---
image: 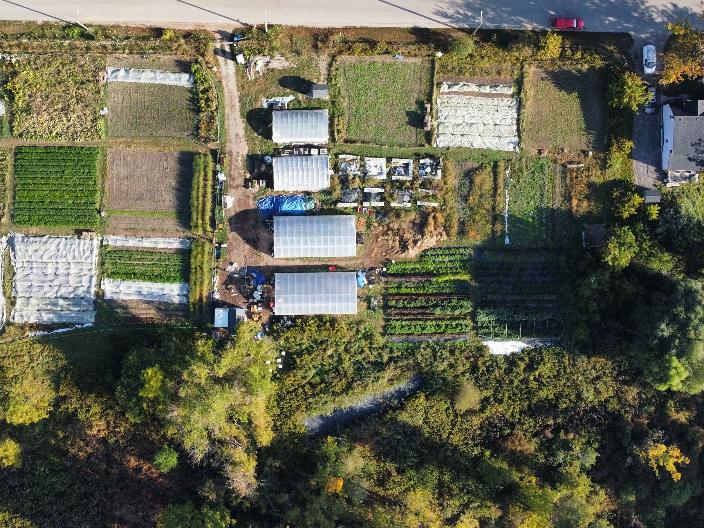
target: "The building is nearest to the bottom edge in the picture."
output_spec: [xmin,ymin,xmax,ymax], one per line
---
[214,306,229,326]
